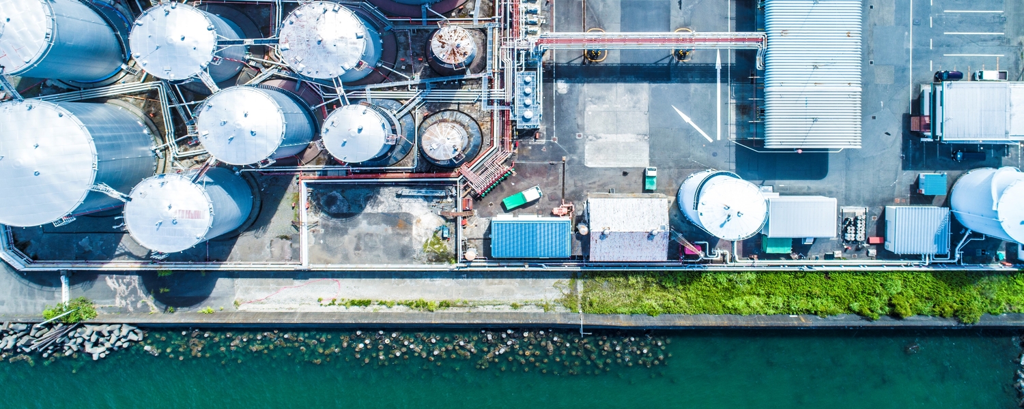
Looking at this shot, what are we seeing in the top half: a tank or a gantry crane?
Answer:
tank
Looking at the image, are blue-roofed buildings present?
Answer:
Yes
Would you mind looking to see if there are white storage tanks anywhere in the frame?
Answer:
Yes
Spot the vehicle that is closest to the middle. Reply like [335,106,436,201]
[501,184,542,213]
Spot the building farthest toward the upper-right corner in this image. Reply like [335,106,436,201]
[901,81,1024,144]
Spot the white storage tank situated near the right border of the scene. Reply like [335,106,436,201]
[948,164,1024,246]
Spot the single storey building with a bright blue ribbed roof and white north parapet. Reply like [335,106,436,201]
[488,213,571,258]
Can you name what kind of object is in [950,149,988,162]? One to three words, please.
vehicle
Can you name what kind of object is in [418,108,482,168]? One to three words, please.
storage tank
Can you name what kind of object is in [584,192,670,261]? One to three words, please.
shed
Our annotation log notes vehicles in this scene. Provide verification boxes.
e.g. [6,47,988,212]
[972,69,1007,81]
[950,149,988,162]
[501,184,542,213]
[932,69,964,81]
[643,167,656,191]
